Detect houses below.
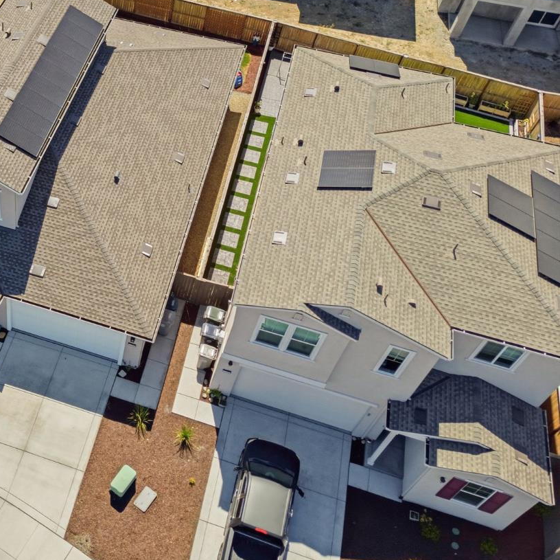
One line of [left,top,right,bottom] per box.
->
[436,0,560,52]
[209,45,560,531]
[0,0,246,368]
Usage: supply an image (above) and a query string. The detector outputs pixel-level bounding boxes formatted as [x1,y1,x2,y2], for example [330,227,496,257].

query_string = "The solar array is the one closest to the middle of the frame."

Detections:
[316,150,375,190]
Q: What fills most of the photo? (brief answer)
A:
buildings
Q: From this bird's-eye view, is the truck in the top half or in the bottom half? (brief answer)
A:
bottom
